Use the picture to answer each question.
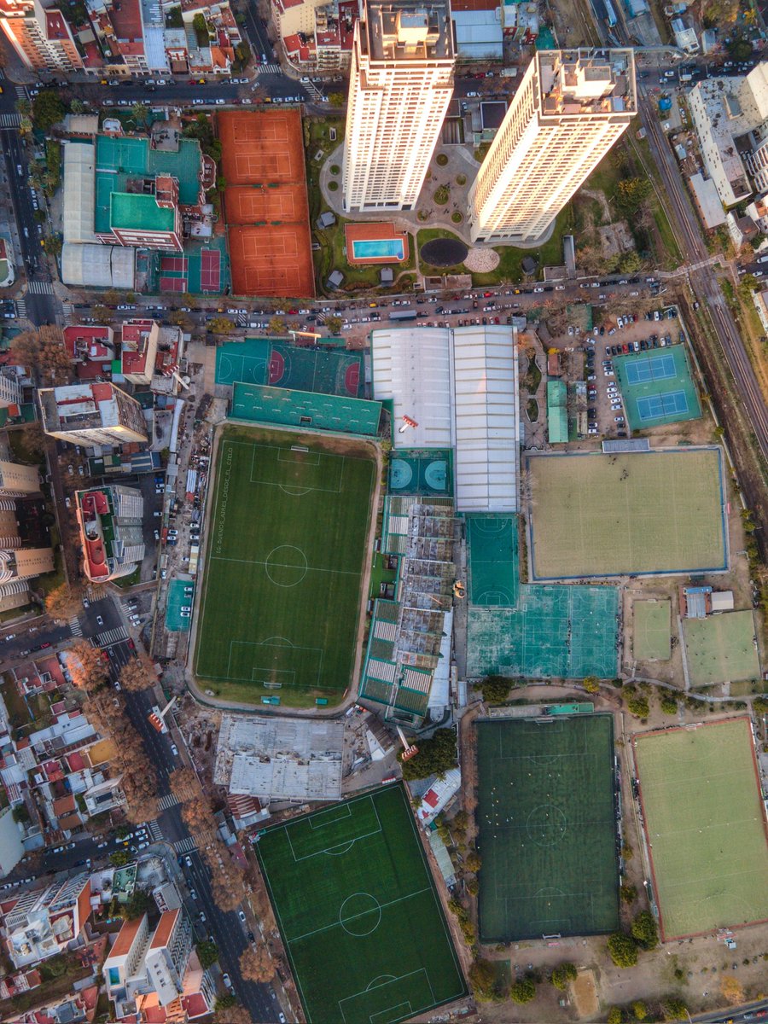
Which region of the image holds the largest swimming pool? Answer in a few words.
top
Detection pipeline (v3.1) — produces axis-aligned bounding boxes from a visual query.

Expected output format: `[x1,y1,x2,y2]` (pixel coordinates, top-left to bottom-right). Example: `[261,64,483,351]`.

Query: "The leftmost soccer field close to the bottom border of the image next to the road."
[251,780,470,1024]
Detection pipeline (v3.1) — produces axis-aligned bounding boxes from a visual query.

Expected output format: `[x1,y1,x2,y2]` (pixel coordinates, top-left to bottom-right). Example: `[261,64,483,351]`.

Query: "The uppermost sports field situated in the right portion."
[527,448,727,579]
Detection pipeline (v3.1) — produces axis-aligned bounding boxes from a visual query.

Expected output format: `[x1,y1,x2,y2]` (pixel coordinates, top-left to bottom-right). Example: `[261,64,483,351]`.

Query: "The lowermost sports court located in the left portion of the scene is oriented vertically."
[166,579,193,631]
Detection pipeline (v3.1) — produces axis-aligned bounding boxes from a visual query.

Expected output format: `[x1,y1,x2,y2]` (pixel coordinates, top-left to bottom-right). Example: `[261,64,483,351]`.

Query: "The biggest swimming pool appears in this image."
[346,223,409,264]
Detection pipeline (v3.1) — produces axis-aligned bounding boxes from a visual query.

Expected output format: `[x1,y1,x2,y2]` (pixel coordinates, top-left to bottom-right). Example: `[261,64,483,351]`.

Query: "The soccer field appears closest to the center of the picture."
[196,441,375,688]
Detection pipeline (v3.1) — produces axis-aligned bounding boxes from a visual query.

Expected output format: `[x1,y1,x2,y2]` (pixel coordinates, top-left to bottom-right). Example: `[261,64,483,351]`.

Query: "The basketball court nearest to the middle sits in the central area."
[389,449,453,495]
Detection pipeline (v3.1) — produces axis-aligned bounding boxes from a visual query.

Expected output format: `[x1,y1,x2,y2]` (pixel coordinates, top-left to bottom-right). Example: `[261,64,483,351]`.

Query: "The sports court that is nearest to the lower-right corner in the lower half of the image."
[571,966,602,1020]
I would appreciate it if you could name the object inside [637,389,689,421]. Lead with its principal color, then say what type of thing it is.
blue tennis court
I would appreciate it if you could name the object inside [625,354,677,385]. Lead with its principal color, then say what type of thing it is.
blue tennis court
